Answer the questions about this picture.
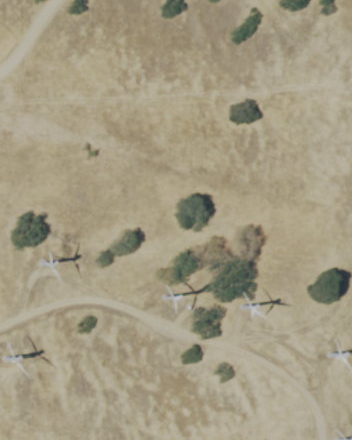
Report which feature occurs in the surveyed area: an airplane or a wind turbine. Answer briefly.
wind turbine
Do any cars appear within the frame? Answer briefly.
No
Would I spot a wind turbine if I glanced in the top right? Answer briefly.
No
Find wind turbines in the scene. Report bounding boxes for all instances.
[38,252,61,284]
[2,344,28,376]
[160,282,184,318]
[326,340,352,374]
[238,290,264,318]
